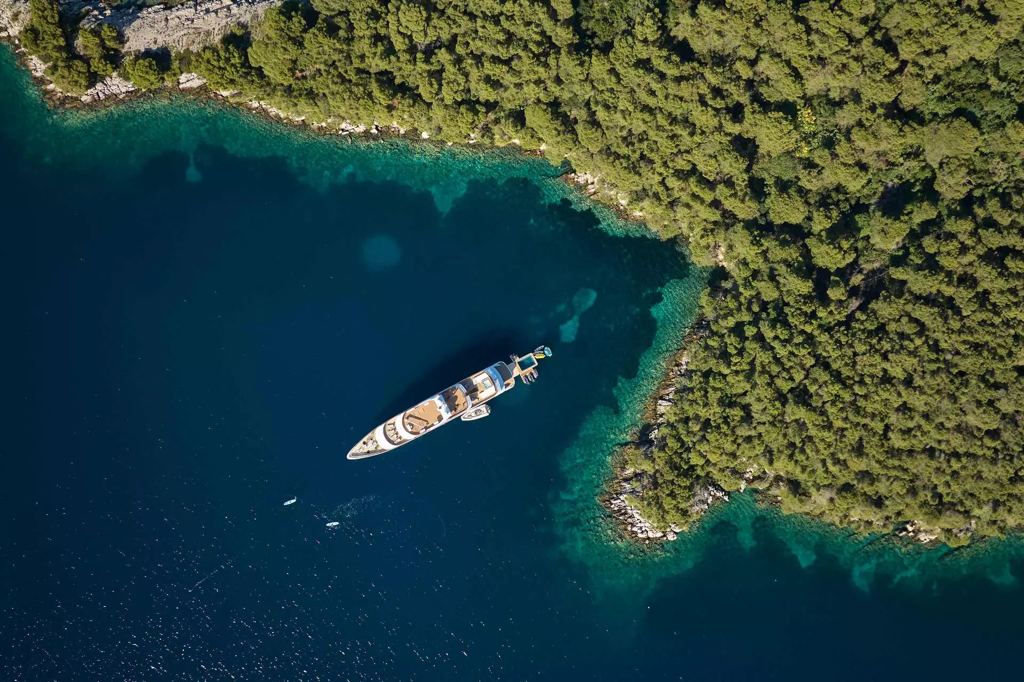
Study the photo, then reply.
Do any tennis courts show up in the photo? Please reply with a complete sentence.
No, I can see no tennis court in this picture.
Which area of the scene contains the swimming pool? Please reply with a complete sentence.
The swimming pool sits in the center section of the image.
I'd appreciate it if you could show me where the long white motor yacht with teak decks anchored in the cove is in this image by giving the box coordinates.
[347,362,514,459]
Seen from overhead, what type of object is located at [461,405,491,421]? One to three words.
boat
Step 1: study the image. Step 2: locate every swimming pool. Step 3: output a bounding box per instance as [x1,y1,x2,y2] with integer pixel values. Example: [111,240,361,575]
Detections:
[515,353,537,373]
